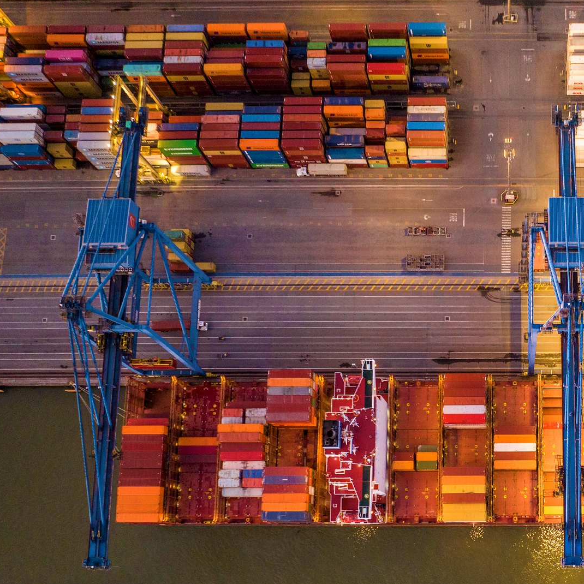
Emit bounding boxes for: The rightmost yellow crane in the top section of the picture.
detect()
[106,74,175,183]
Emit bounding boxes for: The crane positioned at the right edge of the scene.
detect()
[511,106,584,572]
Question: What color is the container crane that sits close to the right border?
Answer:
blue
